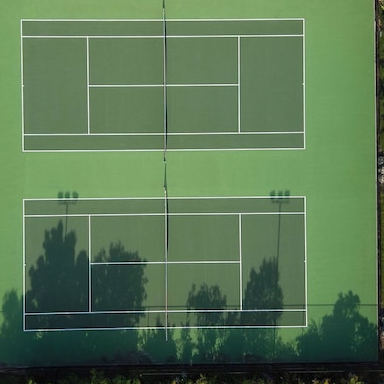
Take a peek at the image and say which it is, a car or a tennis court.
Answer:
tennis court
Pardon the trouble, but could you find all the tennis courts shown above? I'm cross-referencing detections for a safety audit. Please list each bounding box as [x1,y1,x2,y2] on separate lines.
[22,18,306,151]
[23,196,307,330]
